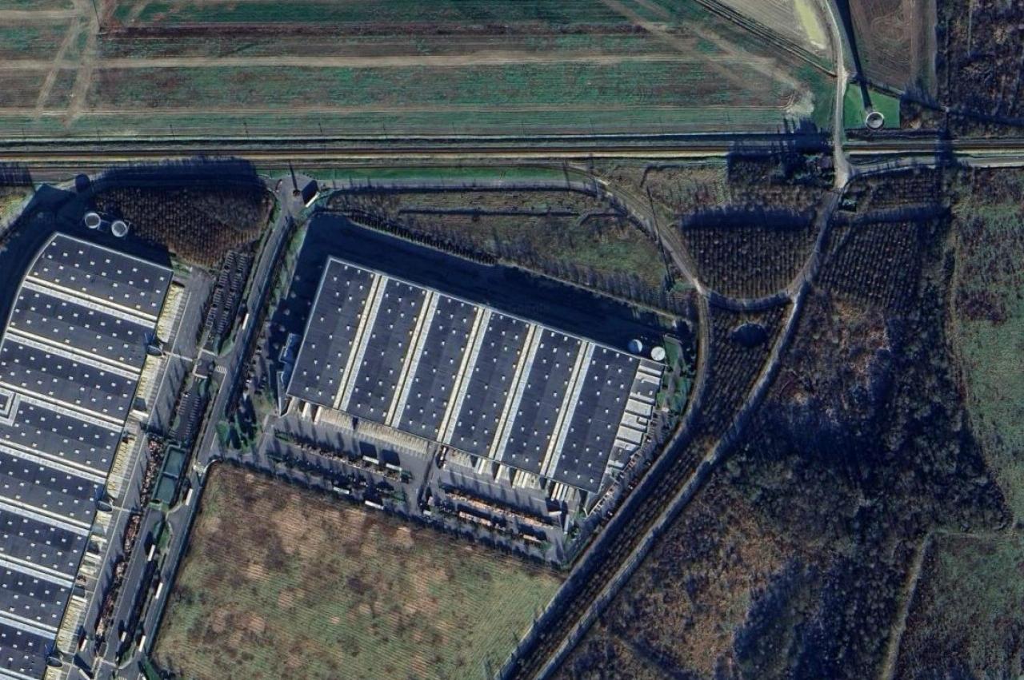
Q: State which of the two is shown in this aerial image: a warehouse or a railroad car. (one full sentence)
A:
This aerial view contains a warehouse.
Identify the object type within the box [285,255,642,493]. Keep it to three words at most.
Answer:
warehouse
